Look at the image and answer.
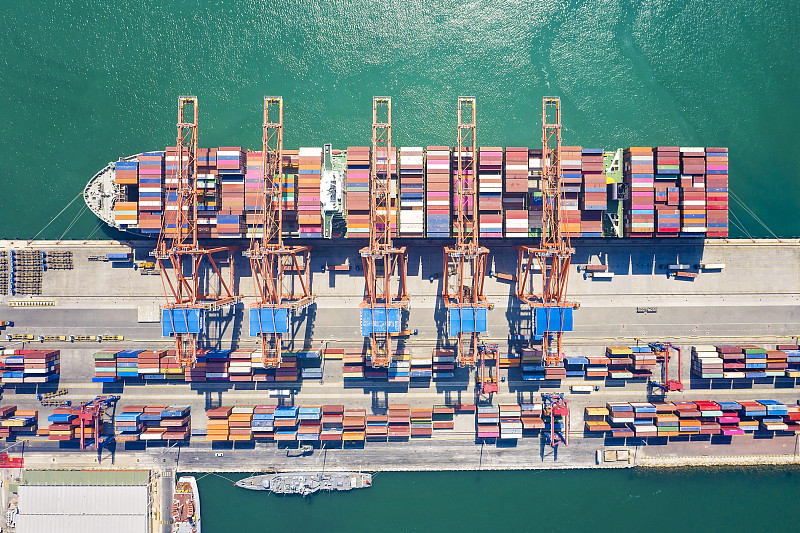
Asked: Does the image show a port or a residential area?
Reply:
port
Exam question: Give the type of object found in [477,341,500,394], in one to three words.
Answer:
container crane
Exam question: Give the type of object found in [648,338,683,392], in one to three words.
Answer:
container crane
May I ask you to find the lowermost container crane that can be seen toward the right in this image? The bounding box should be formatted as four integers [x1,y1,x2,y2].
[541,392,569,448]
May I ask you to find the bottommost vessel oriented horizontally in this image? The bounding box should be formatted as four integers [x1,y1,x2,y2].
[234,462,373,499]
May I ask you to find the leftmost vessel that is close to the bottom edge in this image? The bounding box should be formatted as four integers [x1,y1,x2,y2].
[170,471,204,533]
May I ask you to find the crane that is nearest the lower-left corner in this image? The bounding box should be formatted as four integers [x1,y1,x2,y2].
[81,393,123,449]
